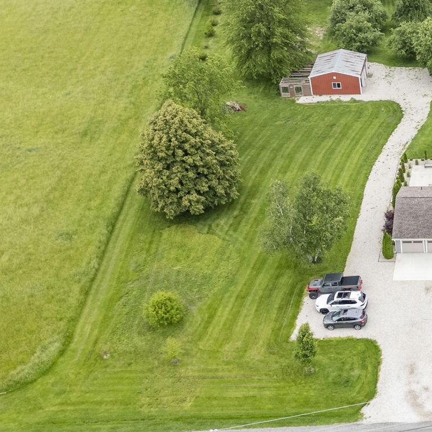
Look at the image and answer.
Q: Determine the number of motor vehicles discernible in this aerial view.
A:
3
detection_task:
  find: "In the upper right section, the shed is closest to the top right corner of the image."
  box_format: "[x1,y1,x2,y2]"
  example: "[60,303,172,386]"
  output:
[308,47,370,94]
